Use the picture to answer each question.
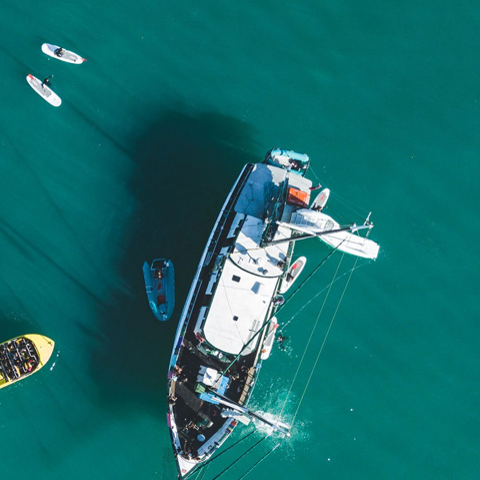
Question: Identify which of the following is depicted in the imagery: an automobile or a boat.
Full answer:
There is a boat in the scene.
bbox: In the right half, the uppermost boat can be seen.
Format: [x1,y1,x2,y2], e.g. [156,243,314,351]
[268,149,316,179]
